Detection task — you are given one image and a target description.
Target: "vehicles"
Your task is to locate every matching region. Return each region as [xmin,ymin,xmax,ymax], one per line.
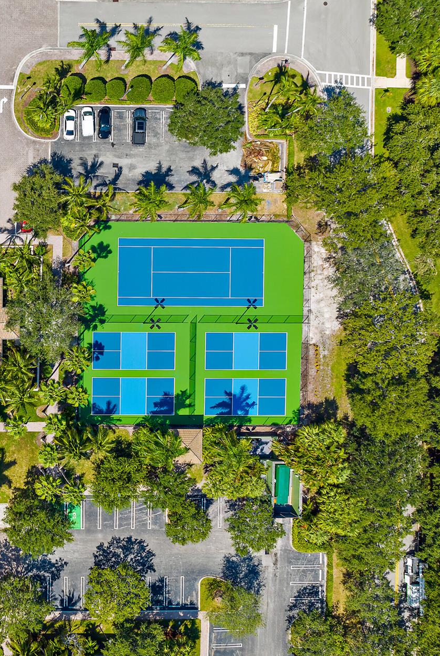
[131,109,146,145]
[97,109,112,138]
[80,107,95,137]
[63,110,77,139]
[399,545,425,616]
